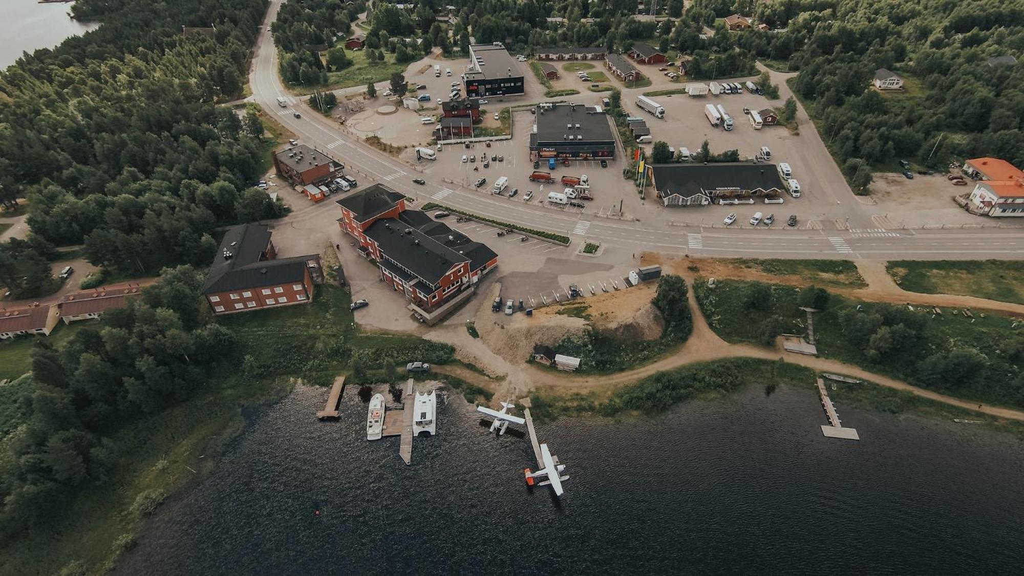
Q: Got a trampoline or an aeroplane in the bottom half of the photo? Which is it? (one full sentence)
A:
Looking in the bottom half of the photo, you will find an aeroplane.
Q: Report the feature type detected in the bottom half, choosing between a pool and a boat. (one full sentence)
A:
What appears in the bottom half is a boat.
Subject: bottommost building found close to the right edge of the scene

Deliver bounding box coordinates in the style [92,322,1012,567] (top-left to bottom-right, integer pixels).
[961,160,1024,215]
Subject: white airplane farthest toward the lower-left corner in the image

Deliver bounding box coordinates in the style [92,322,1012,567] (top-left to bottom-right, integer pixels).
[477,393,526,435]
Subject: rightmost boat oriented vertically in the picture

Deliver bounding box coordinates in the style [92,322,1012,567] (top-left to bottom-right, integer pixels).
[414,391,436,440]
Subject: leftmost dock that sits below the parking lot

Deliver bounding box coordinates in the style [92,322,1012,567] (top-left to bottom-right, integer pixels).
[317,377,346,418]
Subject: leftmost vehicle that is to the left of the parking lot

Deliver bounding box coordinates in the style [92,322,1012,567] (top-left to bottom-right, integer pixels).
[60,266,73,279]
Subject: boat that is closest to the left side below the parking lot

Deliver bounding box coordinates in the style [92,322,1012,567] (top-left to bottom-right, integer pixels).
[367,390,385,445]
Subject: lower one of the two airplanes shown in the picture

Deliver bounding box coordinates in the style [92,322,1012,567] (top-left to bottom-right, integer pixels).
[523,443,571,496]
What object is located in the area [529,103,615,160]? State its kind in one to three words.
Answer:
building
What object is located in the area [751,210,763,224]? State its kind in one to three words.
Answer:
vehicle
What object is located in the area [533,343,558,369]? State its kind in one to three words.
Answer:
shed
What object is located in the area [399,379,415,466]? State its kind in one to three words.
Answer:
pier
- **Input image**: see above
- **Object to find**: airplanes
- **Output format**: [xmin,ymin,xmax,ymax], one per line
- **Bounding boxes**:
[477,393,526,435]
[523,443,571,496]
